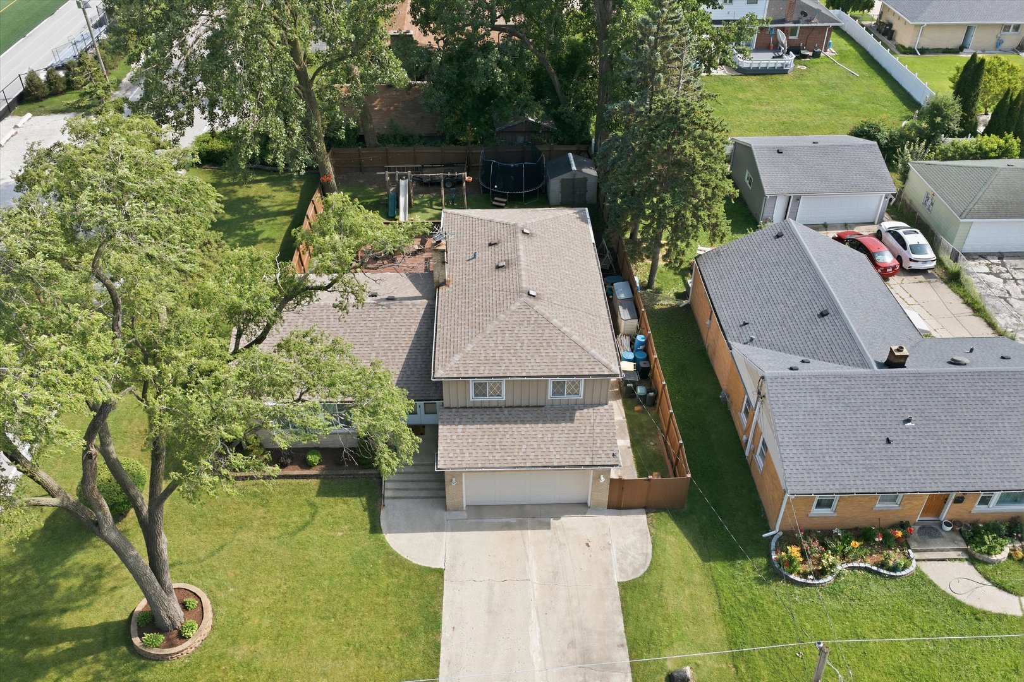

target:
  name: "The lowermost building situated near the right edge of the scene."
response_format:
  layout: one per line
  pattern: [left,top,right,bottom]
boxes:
[681,220,1024,537]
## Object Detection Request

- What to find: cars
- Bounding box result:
[840,228,910,281]
[875,218,936,269]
